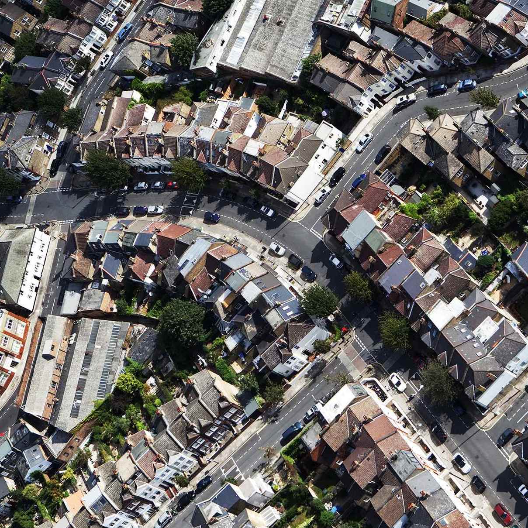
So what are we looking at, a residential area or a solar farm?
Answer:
residential area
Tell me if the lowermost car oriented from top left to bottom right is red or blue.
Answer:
red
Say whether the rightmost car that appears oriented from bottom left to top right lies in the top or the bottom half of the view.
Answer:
bottom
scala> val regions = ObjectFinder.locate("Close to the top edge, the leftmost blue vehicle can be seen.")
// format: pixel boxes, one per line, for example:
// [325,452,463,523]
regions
[116,22,134,41]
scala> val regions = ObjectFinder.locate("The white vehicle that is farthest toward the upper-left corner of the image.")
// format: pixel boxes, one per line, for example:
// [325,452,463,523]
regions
[99,49,114,67]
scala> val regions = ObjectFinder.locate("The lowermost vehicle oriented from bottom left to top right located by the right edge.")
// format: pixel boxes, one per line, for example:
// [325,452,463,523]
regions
[495,427,517,450]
